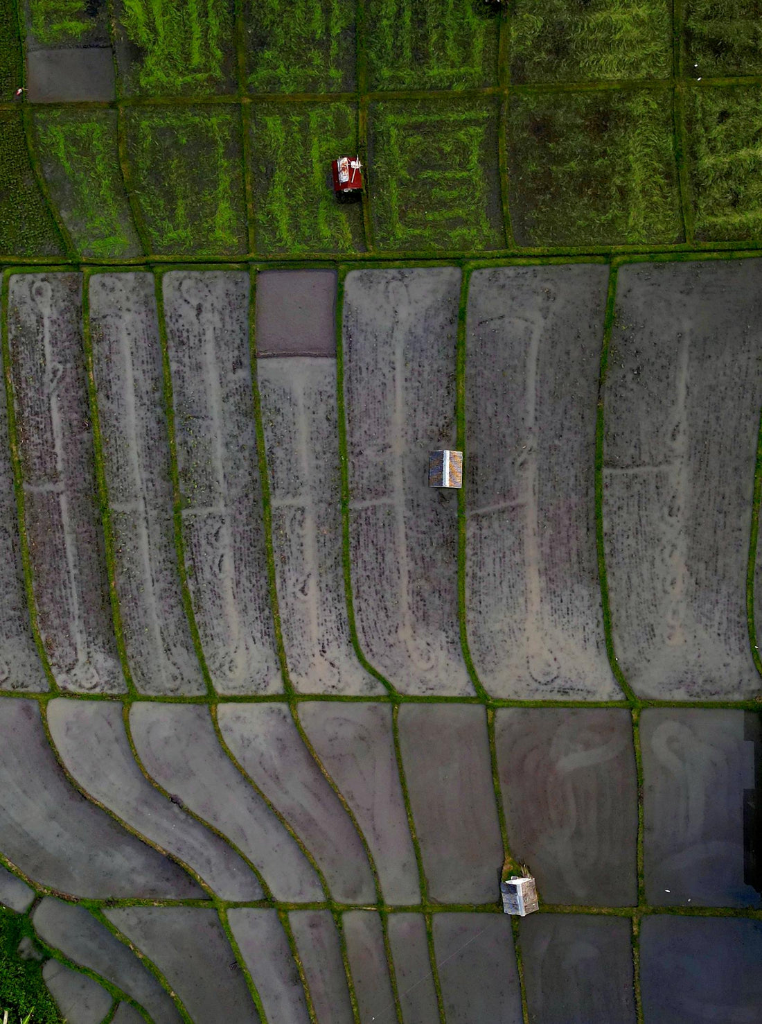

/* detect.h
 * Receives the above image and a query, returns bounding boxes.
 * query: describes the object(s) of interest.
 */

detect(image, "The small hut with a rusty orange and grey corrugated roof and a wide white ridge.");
[428,450,463,489]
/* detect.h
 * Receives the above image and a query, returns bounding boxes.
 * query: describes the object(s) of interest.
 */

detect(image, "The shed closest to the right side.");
[499,876,539,917]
